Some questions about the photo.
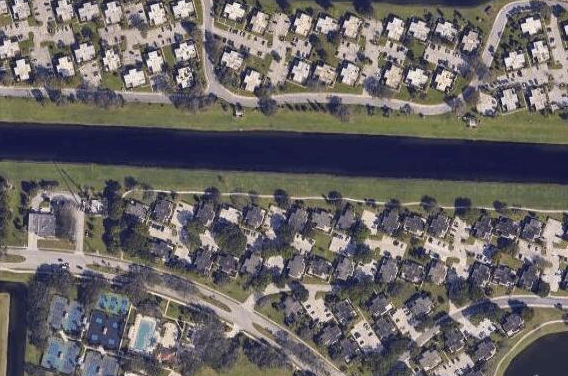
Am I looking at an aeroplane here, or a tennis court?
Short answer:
tennis court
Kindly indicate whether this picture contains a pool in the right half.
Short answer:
No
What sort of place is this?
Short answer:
residential area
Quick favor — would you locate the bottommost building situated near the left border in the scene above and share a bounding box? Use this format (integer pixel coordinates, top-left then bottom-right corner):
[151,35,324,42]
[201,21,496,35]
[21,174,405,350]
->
[28,213,56,237]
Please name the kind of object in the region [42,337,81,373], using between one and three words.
tennis court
